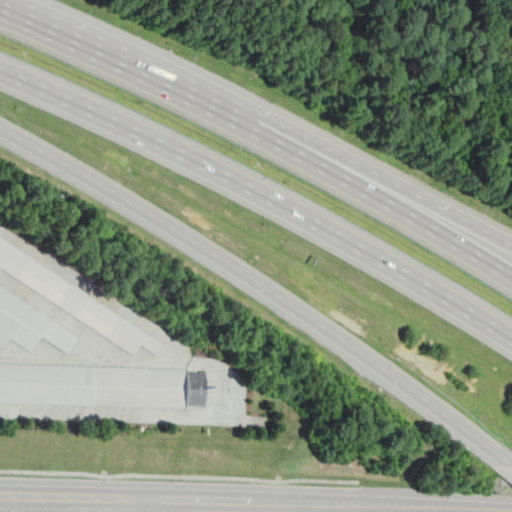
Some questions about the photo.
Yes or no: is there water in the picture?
No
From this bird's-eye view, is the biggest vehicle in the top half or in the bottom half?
top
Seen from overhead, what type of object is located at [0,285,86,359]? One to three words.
building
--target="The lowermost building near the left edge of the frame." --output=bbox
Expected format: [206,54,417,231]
[0,366,186,408]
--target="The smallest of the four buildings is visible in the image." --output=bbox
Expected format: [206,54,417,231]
[188,372,208,406]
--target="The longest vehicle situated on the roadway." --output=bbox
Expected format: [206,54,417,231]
[138,62,178,82]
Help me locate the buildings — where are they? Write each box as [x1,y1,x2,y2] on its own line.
[0,235,170,360]
[0,285,86,359]
[188,372,208,406]
[0,366,186,408]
